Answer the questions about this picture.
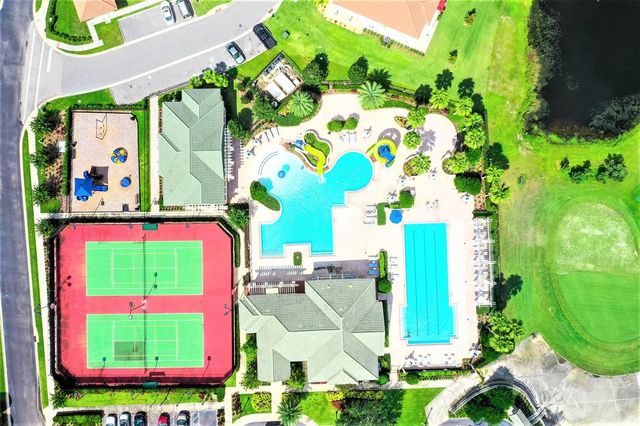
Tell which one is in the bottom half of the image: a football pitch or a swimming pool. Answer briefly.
swimming pool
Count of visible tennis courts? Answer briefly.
1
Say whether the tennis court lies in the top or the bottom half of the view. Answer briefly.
bottom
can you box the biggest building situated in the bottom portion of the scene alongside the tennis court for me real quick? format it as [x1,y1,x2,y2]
[239,279,386,387]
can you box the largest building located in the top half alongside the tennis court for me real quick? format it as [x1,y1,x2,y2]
[158,89,225,206]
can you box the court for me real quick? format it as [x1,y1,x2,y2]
[58,223,232,384]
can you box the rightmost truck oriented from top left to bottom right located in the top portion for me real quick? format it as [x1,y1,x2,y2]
[253,22,277,51]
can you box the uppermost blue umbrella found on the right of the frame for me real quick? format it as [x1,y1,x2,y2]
[389,209,402,222]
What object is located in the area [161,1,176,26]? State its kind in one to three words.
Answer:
car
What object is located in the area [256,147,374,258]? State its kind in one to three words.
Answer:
swimming pool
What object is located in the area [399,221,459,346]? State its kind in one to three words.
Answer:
swimming pool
